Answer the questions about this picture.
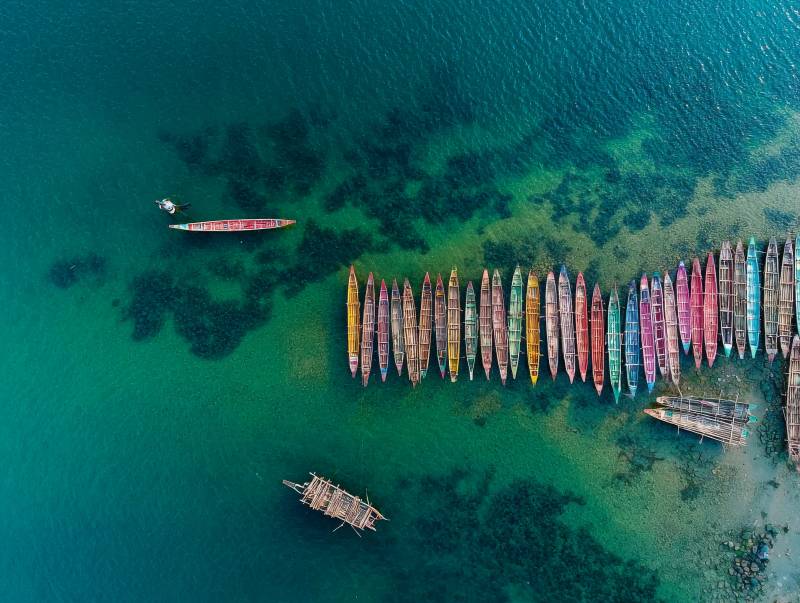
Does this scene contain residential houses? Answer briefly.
No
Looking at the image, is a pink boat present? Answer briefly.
Yes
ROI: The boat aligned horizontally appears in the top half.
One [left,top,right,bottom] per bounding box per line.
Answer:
[166,217,296,231]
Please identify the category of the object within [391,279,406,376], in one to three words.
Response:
boat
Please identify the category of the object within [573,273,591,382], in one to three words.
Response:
boat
